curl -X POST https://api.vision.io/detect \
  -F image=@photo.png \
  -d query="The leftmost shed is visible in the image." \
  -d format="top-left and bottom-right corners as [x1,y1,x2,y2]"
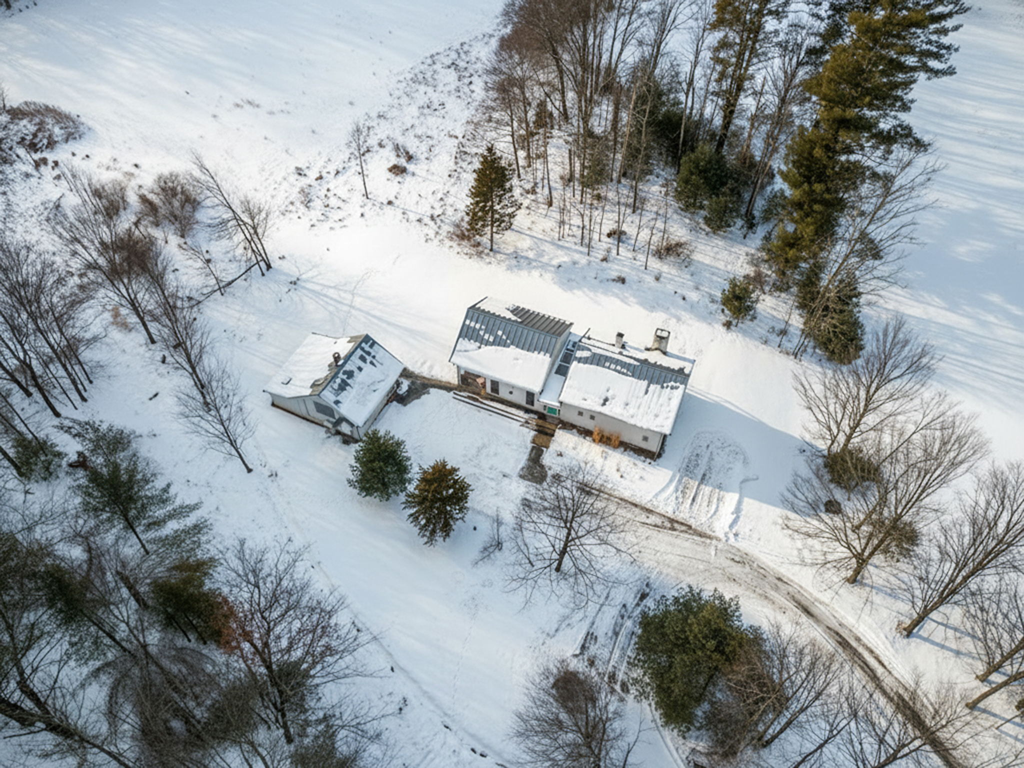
[261,334,404,441]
